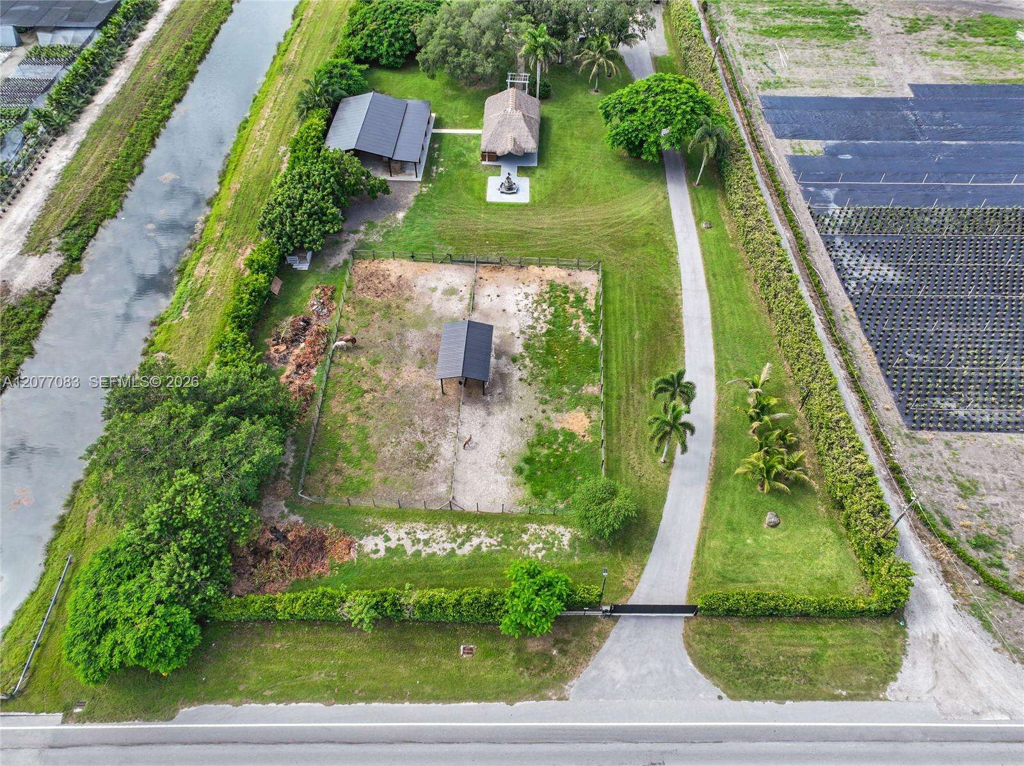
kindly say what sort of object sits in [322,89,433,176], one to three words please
barn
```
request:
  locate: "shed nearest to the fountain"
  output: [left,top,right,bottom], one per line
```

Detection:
[479,86,543,163]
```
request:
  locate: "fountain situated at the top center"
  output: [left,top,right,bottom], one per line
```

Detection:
[498,170,519,195]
